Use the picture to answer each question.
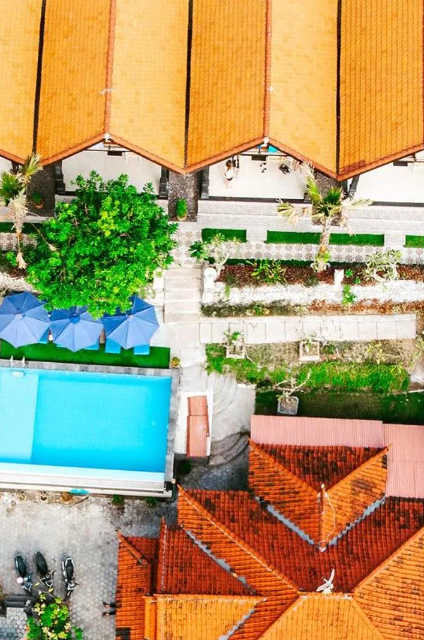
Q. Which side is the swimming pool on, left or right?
left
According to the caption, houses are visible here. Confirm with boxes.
[338,0,424,212]
[186,0,340,207]
[115,440,424,640]
[34,0,191,204]
[0,0,45,198]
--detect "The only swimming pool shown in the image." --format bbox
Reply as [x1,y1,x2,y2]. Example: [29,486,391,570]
[0,354,179,502]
